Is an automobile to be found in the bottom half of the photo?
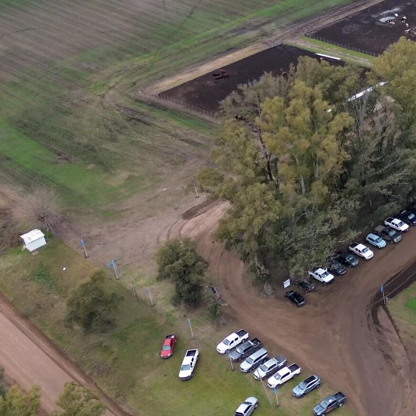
Yes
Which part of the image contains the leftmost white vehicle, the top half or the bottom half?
bottom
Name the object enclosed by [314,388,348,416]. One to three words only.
truck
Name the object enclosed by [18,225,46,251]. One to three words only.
shed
